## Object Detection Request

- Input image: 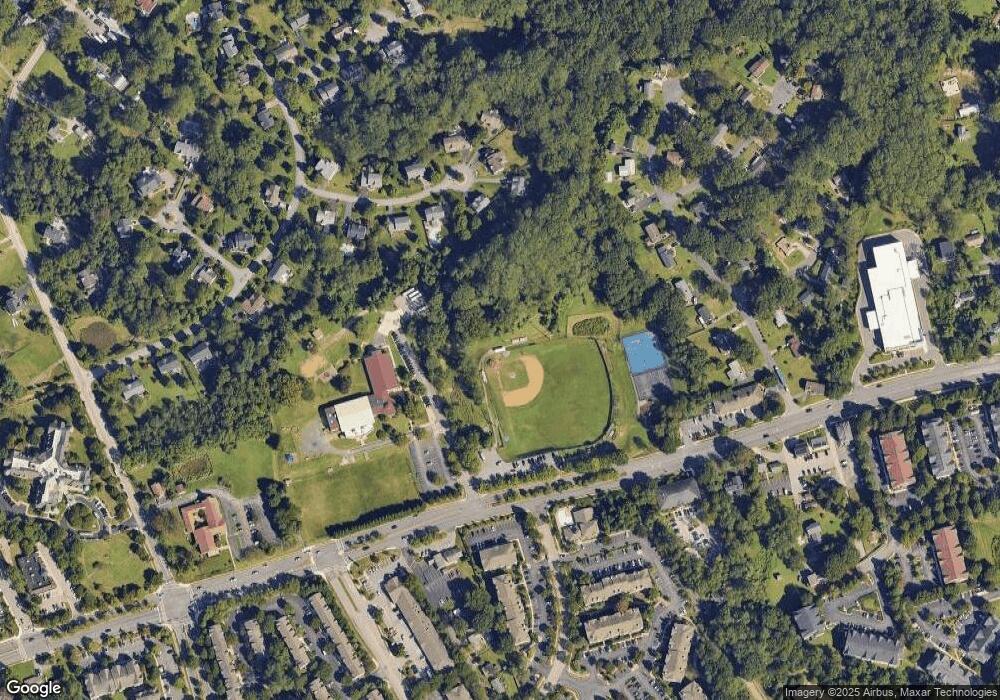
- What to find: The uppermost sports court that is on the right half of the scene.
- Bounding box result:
[622,330,667,375]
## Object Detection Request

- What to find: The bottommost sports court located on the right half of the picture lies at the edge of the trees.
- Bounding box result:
[634,366,673,401]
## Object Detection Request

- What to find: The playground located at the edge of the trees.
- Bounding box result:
[302,352,337,382]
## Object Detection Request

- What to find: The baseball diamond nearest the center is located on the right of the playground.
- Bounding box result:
[481,337,612,463]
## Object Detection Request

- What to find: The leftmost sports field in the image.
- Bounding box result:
[291,448,417,540]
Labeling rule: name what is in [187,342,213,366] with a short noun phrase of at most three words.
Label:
house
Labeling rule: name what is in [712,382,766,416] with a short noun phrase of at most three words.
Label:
building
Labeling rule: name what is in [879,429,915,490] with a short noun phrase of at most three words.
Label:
building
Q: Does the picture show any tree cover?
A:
Yes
